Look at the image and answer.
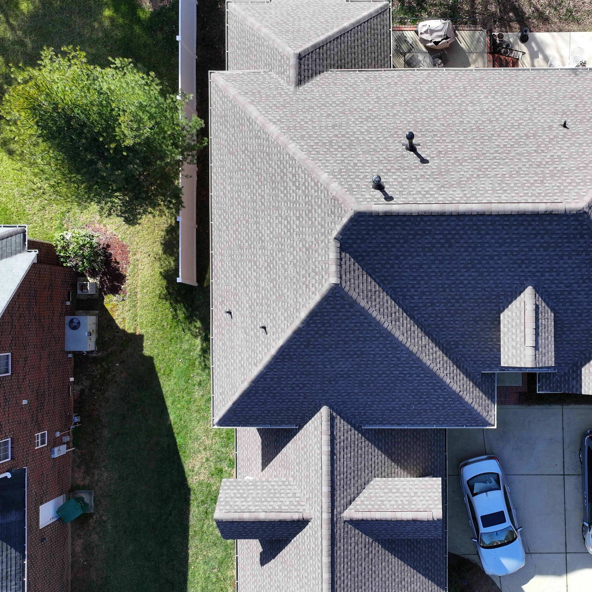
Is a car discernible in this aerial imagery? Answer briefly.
Yes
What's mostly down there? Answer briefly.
buildings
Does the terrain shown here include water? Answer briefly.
No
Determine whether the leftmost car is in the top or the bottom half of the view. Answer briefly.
bottom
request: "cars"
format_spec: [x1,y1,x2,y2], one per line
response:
[579,431,592,553]
[460,453,527,577]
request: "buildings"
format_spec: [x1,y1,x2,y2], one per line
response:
[206,0,592,592]
[0,221,75,592]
